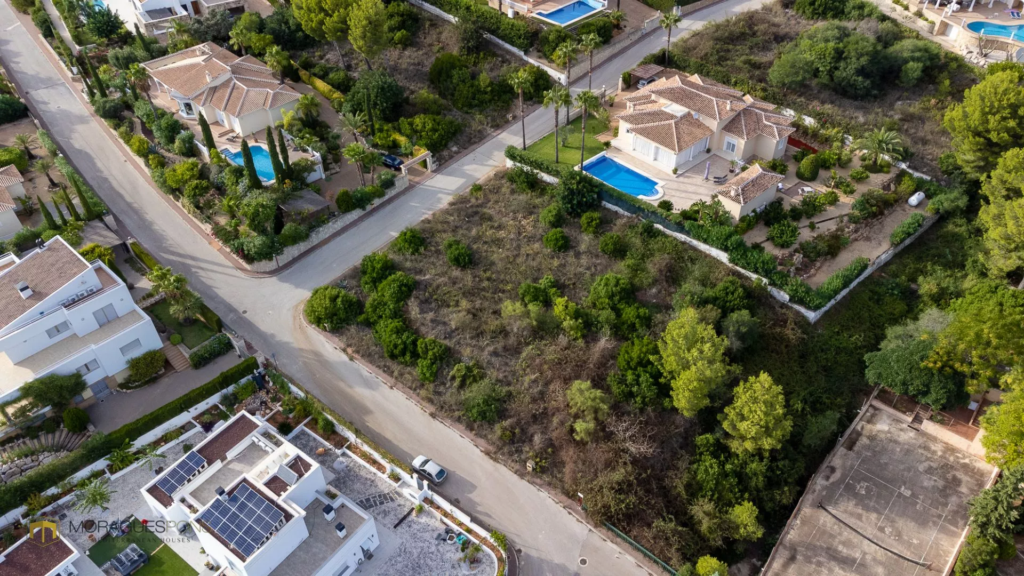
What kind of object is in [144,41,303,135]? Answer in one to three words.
house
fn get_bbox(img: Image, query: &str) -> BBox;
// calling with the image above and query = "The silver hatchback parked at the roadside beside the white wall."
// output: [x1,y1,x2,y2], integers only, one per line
[409,453,450,487]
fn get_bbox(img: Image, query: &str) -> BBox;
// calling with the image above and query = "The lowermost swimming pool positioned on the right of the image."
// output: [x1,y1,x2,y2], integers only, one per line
[579,153,662,199]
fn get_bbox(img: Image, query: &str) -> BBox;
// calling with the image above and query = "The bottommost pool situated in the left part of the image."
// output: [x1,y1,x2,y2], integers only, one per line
[216,144,271,183]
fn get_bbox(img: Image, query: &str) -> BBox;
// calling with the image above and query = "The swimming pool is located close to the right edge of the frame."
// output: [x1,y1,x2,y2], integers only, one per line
[965,20,1024,43]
